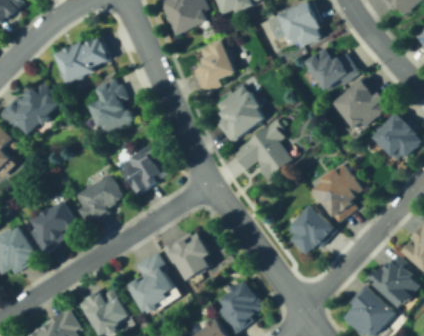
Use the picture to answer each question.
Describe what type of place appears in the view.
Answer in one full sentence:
This looks like a residential area.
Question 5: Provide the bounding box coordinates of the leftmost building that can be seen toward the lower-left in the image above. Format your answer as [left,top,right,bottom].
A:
[0,227,35,276]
